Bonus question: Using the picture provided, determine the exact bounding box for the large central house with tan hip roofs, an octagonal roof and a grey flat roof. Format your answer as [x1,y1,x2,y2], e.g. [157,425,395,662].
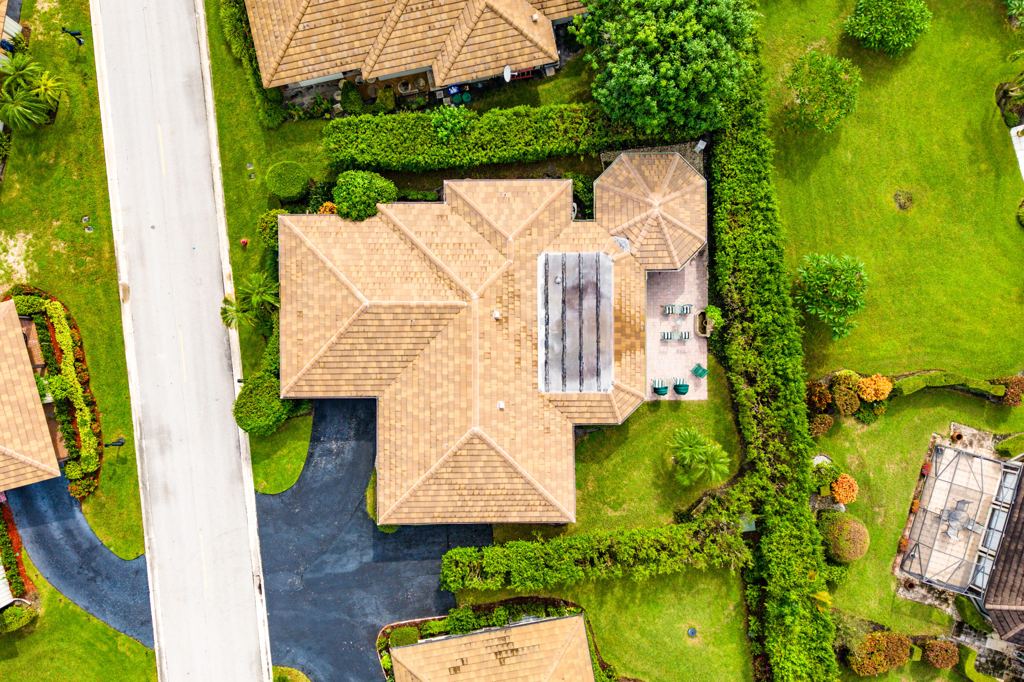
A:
[277,151,709,527]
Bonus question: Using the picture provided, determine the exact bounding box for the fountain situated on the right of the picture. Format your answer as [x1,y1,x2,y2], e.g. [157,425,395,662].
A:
[692,309,713,337]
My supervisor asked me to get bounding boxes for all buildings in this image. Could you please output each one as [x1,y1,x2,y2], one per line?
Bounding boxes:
[0,0,22,44]
[388,611,597,682]
[964,435,1024,650]
[245,0,603,92]
[277,151,709,527]
[0,299,62,492]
